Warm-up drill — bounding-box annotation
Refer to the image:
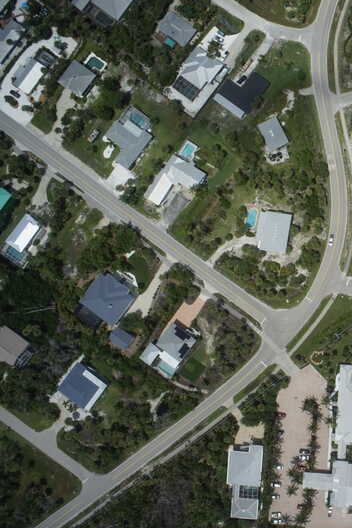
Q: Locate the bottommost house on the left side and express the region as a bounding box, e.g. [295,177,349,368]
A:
[58,354,109,411]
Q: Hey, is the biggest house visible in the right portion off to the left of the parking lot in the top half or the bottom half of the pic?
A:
bottom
